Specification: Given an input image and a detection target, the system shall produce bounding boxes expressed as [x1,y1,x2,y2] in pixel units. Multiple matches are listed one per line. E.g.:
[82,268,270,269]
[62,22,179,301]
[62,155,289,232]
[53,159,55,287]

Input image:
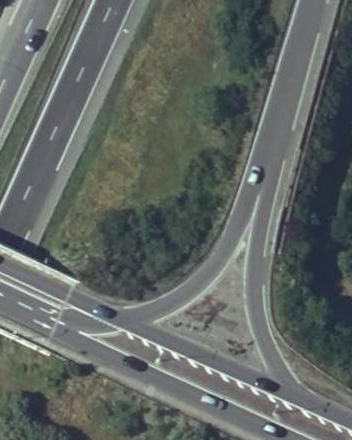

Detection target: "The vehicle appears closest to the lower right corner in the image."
[264,423,285,438]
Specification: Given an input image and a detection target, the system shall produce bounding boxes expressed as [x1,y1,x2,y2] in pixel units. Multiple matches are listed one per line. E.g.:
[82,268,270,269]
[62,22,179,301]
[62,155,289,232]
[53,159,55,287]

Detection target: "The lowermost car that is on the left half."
[124,356,145,372]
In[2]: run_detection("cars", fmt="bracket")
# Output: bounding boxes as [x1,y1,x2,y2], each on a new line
[27,30,42,51]
[202,394,223,410]
[264,423,285,438]
[93,304,114,320]
[124,356,145,372]
[248,164,262,186]
[256,378,278,393]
